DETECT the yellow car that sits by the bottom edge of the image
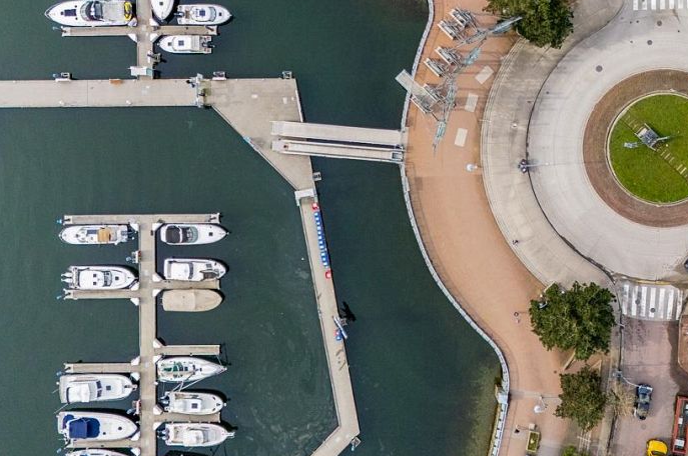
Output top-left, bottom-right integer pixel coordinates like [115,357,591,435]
[646,440,667,456]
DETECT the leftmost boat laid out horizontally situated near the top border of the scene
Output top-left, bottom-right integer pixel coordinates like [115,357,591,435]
[44,0,137,28]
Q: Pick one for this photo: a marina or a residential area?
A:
marina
